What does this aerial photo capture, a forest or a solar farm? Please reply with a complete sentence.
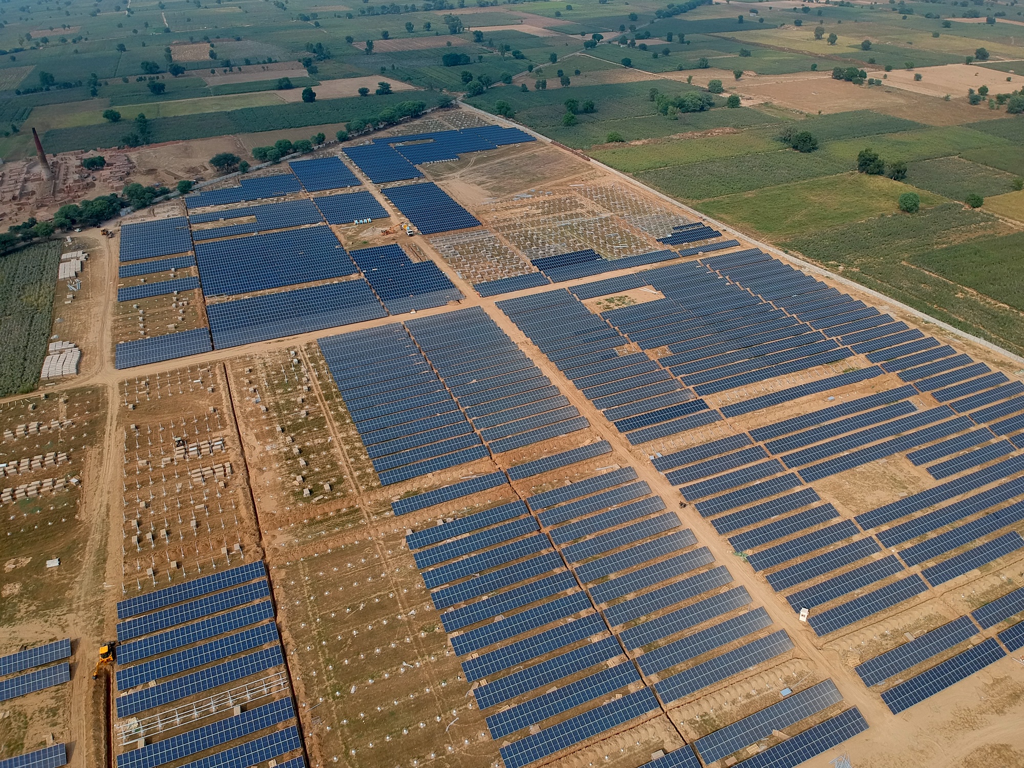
This image shows a solar farm.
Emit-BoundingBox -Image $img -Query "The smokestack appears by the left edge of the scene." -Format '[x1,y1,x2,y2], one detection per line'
[31,127,58,182]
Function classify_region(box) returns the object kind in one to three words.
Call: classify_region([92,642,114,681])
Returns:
work vehicle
